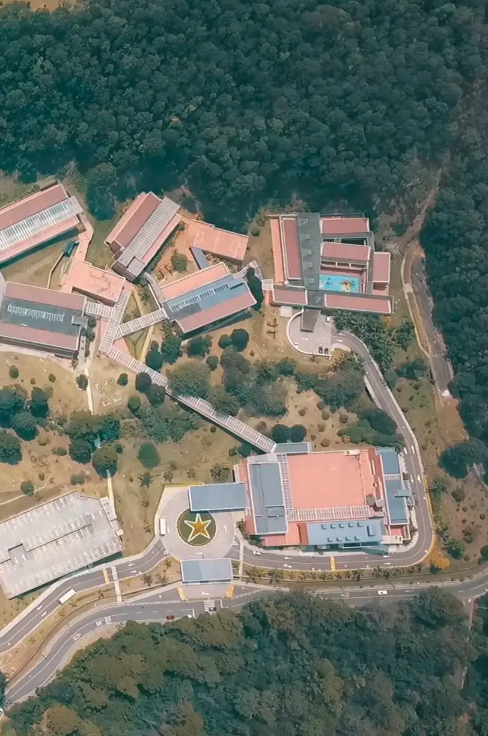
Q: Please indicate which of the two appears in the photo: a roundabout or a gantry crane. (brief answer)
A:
roundabout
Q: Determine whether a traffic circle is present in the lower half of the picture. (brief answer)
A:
Yes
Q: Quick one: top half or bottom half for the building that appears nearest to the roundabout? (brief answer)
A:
bottom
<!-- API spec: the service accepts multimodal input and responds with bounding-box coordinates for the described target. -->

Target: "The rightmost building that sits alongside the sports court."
[265,209,393,318]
